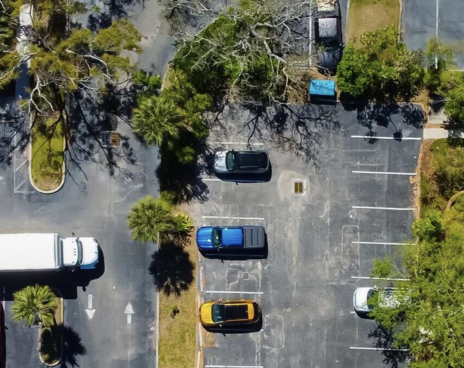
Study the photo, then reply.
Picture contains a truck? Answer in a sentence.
Yes, the picture does show a truck.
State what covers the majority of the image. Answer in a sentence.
The scene is dominated by paved ground.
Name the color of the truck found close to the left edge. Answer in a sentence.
From above, the truck found close to the left edge appears white.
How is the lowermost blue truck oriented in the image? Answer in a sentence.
The lowermost blue truck is laid out from side to side.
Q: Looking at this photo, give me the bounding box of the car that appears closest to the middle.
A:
[214,149,273,182]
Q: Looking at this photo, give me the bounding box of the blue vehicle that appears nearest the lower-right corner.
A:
[197,226,267,260]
